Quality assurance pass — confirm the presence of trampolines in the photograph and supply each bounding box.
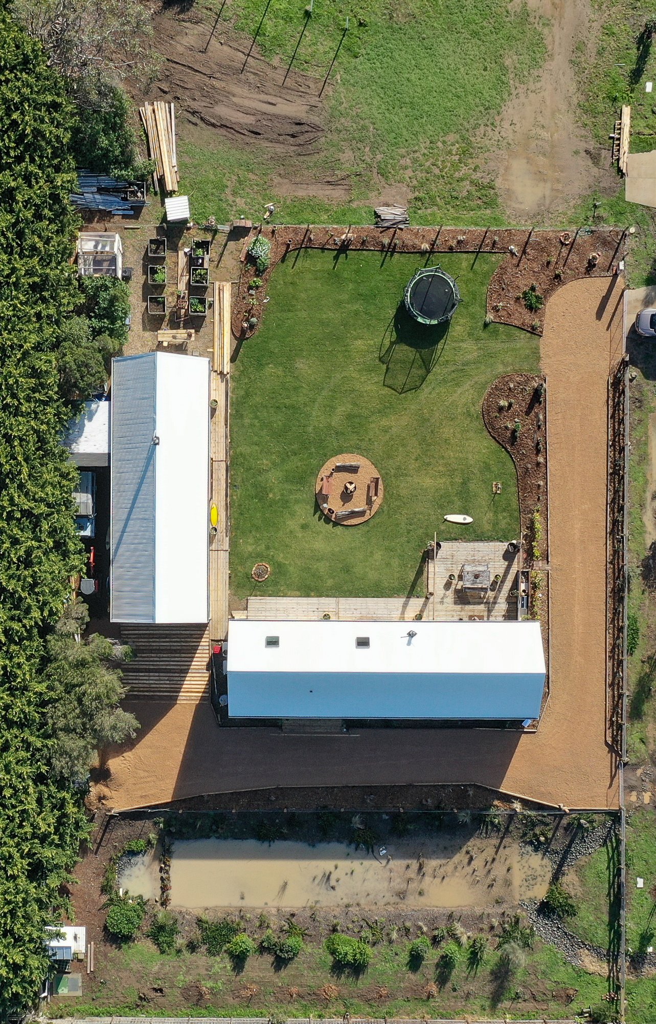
[404,264,460,328]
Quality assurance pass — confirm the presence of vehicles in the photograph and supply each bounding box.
[78,550,102,591]
[632,308,656,339]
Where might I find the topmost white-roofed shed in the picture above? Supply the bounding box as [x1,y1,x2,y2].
[165,197,189,223]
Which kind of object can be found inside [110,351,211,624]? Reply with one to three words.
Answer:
shed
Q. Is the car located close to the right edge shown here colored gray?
Yes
